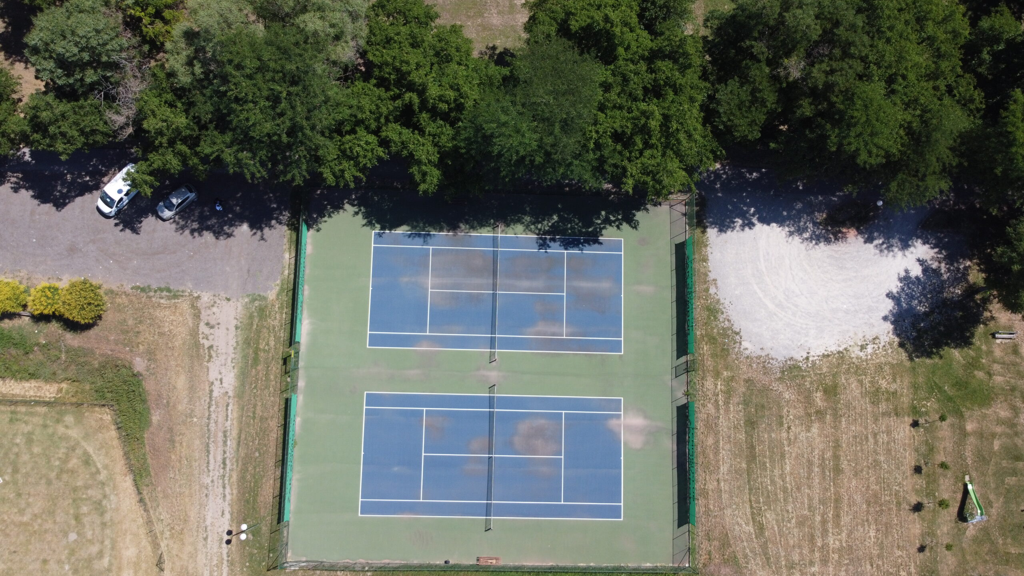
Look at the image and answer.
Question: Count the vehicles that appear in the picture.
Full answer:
The picture shows 2 vehicles.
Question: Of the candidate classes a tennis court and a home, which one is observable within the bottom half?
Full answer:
The feature located within the bottom half is a tennis court.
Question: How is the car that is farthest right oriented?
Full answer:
In this picture, the car that is farthest right lies on a diagonal.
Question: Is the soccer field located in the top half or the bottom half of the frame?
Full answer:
Seen from above, the soccer field lies in the bottom half of the view.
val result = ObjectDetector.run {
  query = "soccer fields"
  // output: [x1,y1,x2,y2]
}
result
[0,403,162,576]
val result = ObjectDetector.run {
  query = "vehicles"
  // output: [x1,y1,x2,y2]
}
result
[98,172,140,217]
[158,184,201,220]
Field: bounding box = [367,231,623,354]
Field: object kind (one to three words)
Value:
tennis court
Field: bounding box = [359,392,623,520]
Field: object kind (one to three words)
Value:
tennis court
